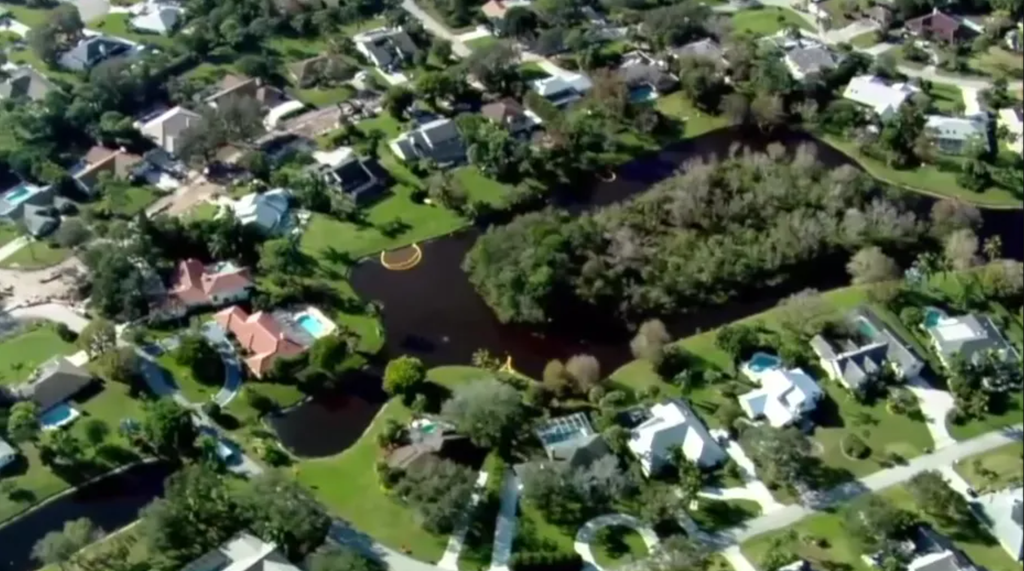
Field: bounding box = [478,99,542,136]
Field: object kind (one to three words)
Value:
house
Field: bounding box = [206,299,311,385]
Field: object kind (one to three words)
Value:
house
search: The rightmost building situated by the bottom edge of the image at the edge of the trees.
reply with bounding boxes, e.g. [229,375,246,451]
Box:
[976,483,1024,565]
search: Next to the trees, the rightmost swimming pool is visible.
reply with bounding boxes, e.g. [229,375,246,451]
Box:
[921,305,957,330]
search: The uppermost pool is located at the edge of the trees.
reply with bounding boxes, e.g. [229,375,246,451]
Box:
[626,87,660,104]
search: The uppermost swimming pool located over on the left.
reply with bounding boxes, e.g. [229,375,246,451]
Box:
[0,184,44,214]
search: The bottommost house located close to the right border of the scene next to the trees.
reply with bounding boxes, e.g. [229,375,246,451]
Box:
[895,525,980,571]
